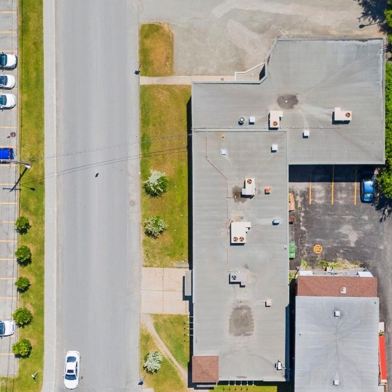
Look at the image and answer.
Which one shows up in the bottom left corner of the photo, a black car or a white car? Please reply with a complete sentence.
What appears in the bottom left corner of the photo is a white car.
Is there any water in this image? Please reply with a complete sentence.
No, there is no water in the image.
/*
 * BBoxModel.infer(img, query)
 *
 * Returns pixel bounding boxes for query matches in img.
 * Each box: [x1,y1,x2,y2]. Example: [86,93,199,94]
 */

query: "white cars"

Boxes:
[0,71,17,91]
[0,51,18,69]
[0,321,16,339]
[62,350,80,389]
[0,92,17,111]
